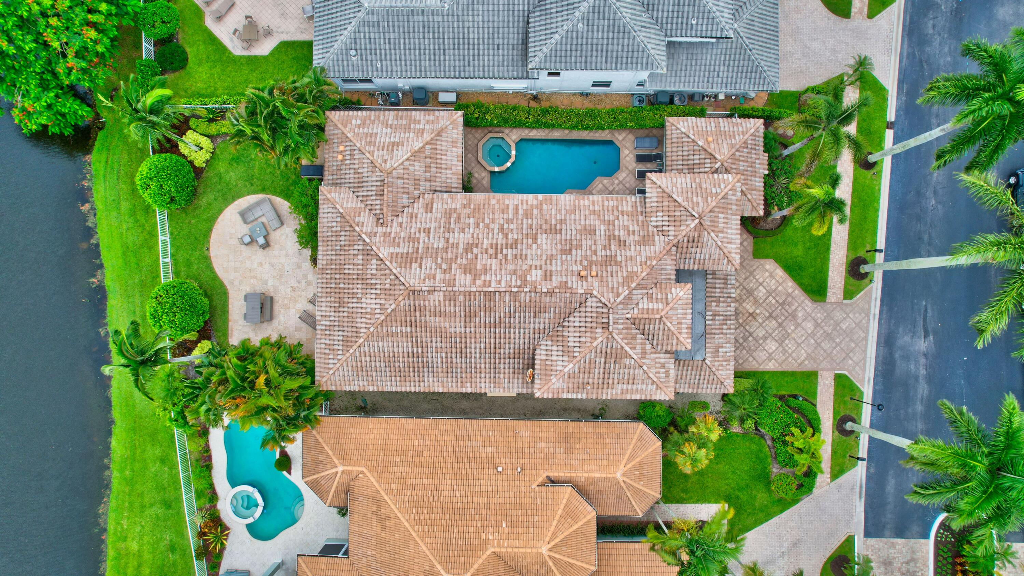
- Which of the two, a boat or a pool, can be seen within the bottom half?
pool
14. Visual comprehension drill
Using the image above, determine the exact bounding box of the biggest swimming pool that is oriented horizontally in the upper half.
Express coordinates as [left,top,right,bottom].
[487,136,623,192]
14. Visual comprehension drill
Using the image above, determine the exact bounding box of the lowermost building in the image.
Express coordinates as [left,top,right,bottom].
[295,414,685,576]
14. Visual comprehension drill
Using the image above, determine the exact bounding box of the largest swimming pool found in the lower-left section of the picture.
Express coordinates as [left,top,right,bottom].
[221,420,307,543]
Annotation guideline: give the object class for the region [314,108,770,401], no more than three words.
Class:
house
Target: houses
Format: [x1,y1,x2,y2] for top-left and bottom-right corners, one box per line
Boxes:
[314,108,770,401]
[311,0,782,99]
[295,414,685,576]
